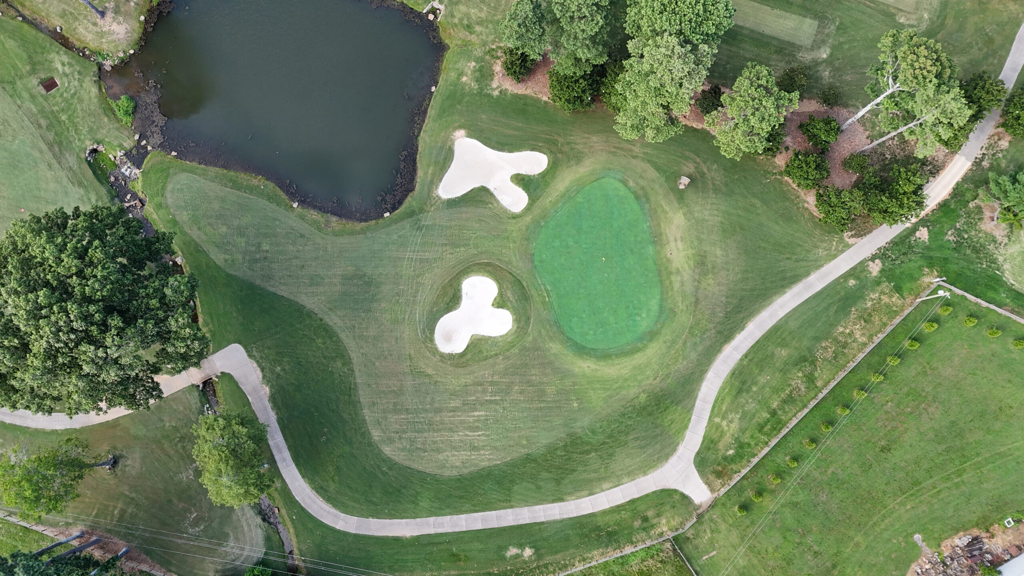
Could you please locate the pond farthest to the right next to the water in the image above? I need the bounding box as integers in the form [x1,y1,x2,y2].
[127,0,437,215]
